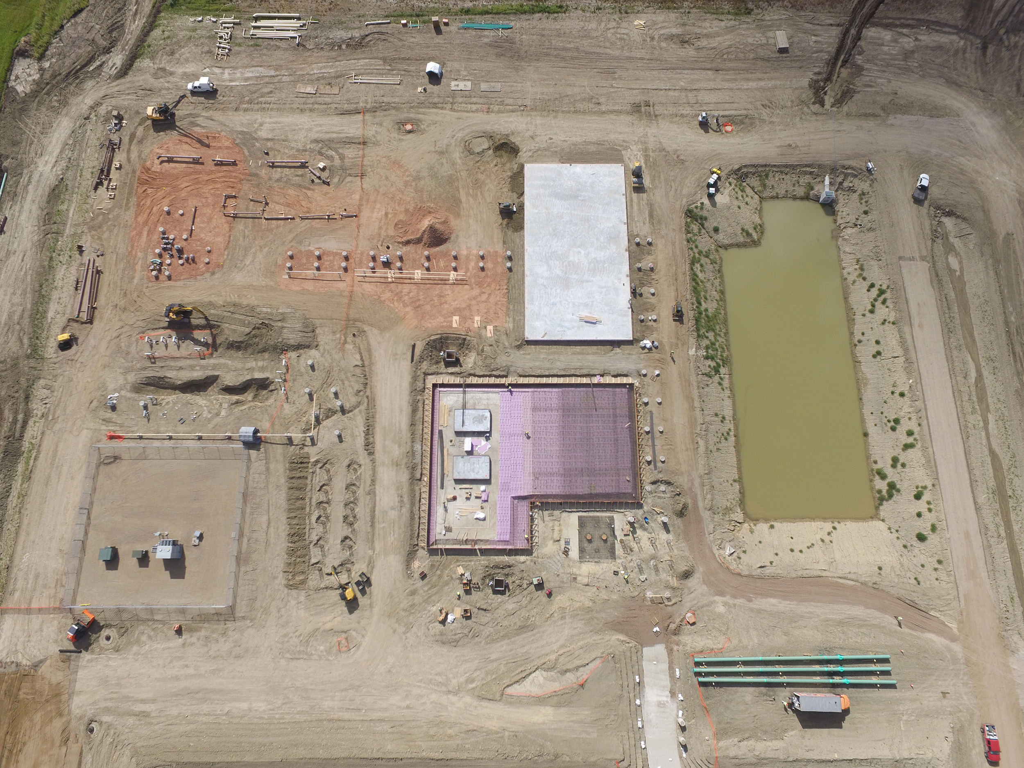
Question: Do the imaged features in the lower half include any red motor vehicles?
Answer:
Yes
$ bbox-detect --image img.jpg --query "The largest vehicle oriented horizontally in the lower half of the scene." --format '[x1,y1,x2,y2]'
[784,690,849,713]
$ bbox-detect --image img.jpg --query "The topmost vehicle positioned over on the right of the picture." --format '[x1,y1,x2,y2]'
[695,111,721,126]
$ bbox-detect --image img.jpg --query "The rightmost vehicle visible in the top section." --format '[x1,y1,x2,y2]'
[911,173,930,201]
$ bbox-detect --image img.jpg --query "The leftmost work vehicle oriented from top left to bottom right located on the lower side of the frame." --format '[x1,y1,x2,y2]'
[327,565,358,606]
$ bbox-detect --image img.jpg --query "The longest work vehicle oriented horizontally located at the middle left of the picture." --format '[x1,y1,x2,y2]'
[160,301,219,323]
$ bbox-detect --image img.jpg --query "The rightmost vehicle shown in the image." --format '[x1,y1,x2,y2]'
[978,719,1002,763]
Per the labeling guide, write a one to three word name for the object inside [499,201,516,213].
vehicle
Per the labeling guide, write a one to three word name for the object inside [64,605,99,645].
work vehicle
